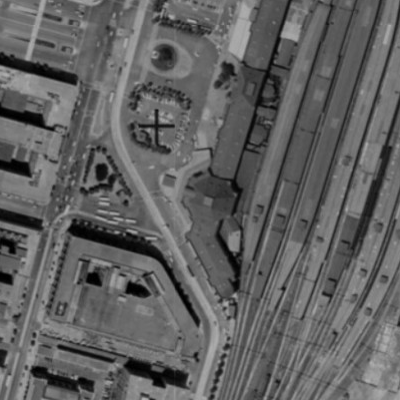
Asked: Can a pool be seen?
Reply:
No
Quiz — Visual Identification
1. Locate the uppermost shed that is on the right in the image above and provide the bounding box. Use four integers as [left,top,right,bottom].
[282,5,308,42]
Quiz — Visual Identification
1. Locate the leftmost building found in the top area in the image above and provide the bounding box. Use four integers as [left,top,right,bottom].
[0,66,78,205]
